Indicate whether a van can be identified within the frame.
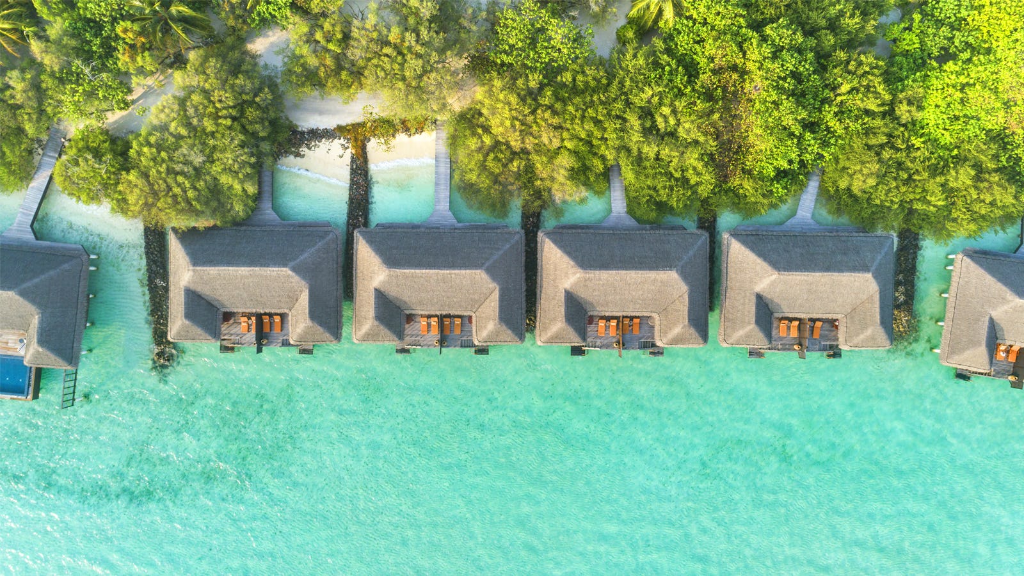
No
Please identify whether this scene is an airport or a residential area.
residential area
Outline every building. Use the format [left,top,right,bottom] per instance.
[534,223,711,356]
[717,224,894,357]
[168,222,344,354]
[351,222,527,355]
[0,239,101,369]
[927,248,1024,391]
